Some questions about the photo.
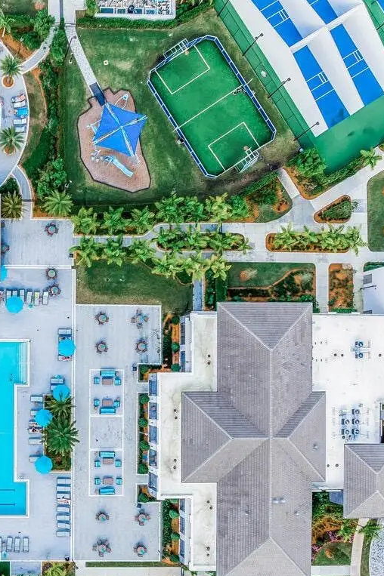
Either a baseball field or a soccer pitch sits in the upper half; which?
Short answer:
soccer pitch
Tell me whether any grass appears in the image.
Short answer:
Yes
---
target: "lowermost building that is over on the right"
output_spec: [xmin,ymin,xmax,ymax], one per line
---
[148,302,384,576]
